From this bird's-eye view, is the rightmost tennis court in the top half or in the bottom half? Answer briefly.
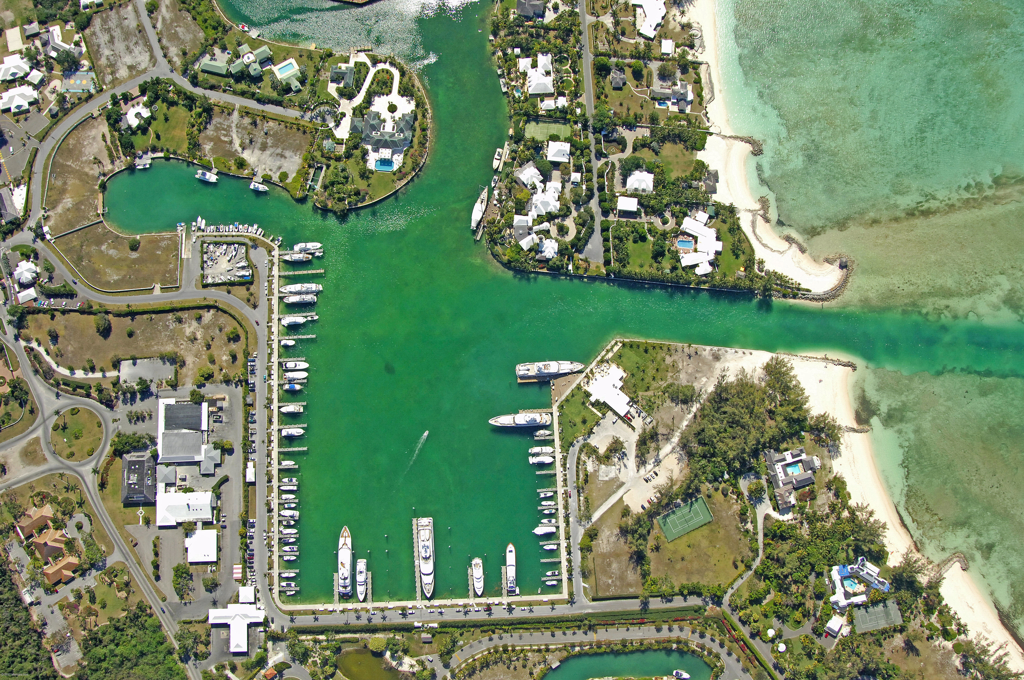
bottom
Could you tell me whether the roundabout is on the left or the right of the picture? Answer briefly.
left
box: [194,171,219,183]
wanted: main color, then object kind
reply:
white boat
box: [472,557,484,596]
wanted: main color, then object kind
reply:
white boat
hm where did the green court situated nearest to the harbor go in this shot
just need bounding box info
[657,497,715,542]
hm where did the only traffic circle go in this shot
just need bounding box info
[42,399,112,470]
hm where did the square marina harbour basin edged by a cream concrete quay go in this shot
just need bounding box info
[192,231,616,610]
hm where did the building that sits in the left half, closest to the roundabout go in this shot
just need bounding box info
[121,453,157,503]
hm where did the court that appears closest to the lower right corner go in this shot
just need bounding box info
[852,601,904,631]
